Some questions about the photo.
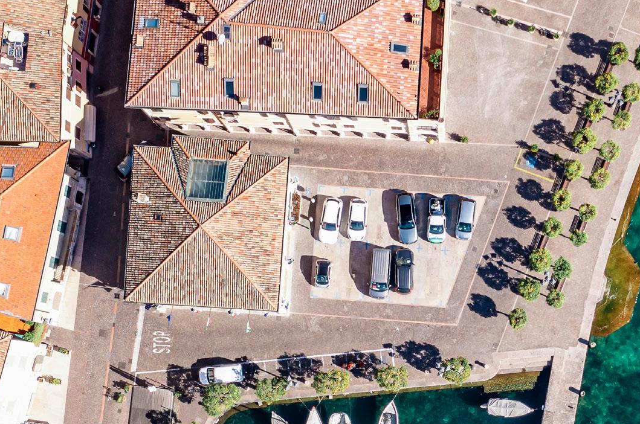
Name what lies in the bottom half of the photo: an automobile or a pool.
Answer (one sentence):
Looking in the bottom half of the photo, you will find an automobile.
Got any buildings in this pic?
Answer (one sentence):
Yes, there's a building down there.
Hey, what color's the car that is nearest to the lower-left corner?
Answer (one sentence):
The color of the car that is nearest to the lower-left corner is white.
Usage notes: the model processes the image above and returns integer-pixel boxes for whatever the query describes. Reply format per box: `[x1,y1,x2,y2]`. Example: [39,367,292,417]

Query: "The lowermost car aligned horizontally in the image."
[200,363,246,386]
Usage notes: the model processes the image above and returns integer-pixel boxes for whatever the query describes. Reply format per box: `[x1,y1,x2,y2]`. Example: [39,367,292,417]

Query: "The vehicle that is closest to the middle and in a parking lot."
[316,196,344,244]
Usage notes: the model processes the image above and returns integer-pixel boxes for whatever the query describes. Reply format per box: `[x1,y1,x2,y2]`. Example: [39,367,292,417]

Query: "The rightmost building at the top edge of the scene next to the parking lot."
[125,0,451,143]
